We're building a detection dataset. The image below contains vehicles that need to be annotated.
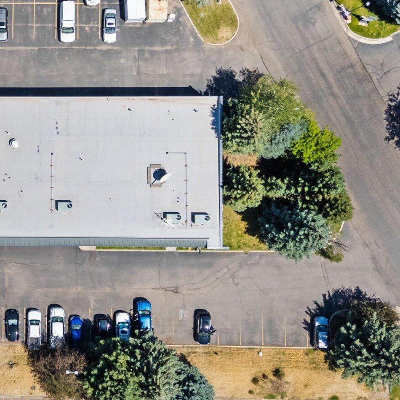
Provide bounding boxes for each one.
[68,314,84,344]
[26,309,43,350]
[114,311,132,344]
[0,7,9,43]
[101,9,118,44]
[96,314,111,344]
[196,310,218,343]
[3,308,20,341]
[59,1,77,43]
[48,306,67,349]
[136,299,154,343]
